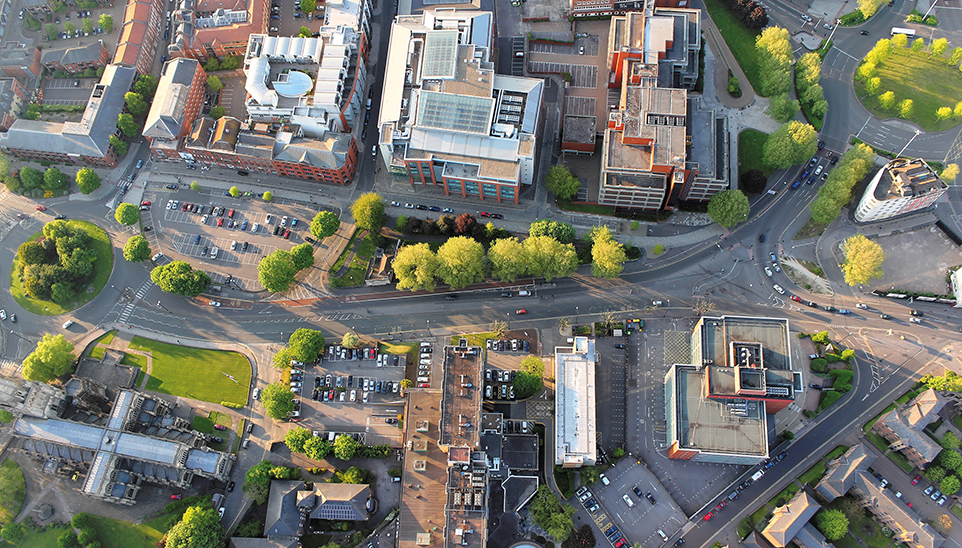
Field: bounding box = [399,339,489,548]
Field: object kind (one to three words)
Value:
building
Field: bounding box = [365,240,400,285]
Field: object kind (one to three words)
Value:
house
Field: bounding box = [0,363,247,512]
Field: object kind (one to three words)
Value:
church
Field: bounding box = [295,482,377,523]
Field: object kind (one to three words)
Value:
house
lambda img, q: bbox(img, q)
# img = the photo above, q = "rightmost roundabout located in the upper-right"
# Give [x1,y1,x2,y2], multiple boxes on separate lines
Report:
[853,47,962,132]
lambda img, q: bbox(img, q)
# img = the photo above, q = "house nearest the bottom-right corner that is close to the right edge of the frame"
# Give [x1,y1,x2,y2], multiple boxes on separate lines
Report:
[847,468,949,548]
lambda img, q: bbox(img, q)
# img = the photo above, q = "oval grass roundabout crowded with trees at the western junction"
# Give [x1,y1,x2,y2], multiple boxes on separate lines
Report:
[9,219,114,316]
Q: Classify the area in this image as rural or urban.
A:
urban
